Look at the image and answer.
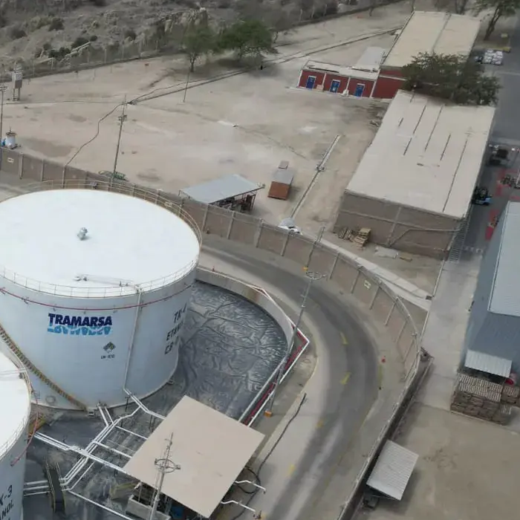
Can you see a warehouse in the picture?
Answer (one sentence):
Yes, a warehouse is visible in the scene.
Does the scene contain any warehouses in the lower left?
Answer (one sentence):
No, no warehouse can be made out in the lower left.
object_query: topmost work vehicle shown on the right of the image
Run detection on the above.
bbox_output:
[488,146,510,162]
